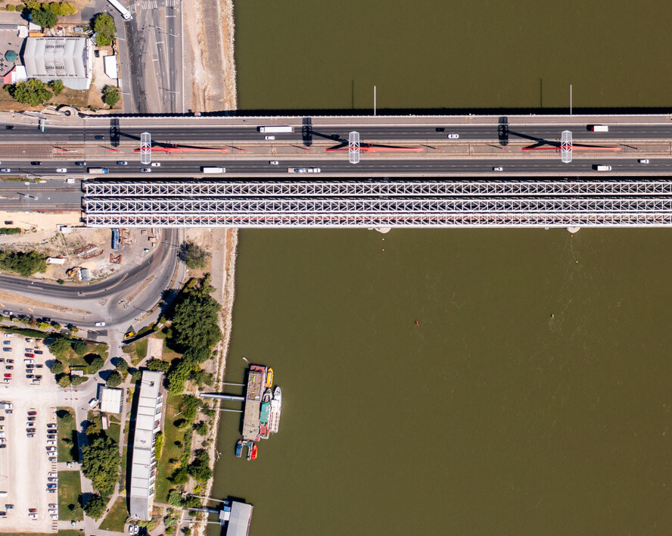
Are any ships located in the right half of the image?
No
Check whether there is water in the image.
Yes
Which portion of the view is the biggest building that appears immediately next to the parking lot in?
bottom left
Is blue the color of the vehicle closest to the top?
No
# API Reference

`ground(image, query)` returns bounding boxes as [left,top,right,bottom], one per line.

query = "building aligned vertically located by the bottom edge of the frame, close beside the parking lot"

[129,367,169,521]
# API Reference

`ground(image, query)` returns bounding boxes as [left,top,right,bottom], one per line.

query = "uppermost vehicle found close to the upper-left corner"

[106,0,133,20]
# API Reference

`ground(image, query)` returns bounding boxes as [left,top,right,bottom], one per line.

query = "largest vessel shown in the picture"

[241,364,267,441]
